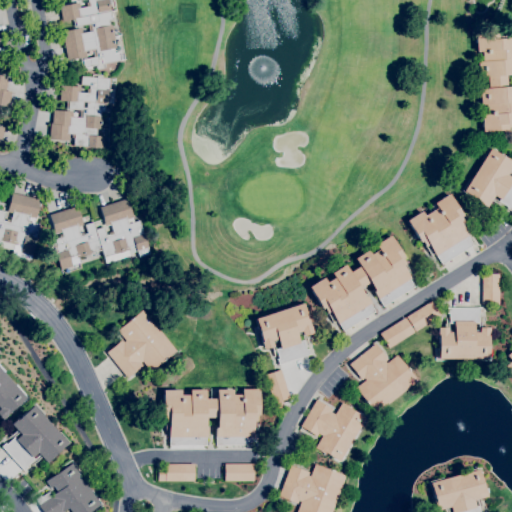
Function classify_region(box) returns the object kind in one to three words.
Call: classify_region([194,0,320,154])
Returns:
pond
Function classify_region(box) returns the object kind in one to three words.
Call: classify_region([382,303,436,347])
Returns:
building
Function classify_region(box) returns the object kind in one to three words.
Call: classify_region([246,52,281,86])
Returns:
fountain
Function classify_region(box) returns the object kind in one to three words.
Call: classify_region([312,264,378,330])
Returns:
house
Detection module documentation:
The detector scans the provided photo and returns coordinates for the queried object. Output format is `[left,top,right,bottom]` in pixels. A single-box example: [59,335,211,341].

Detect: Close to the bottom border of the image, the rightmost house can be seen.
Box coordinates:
[432,470,492,512]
